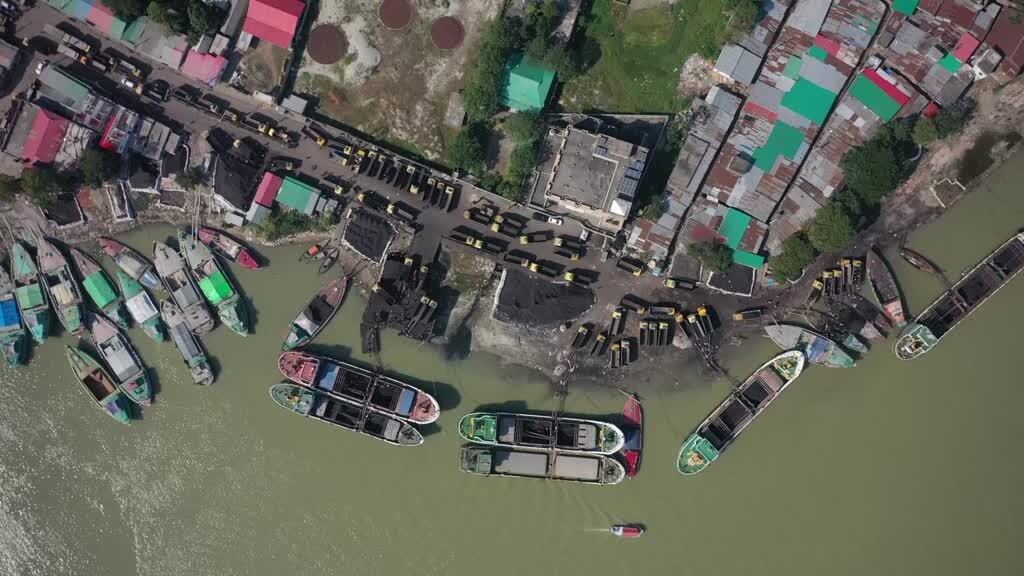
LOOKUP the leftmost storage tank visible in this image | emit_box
[307,23,349,65]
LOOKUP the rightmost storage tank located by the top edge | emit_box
[430,16,464,51]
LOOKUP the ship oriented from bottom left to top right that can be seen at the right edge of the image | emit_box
[890,228,1024,356]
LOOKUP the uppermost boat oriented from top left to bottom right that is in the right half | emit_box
[898,247,943,274]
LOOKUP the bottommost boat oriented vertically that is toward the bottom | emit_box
[620,394,643,479]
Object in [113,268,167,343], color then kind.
white boat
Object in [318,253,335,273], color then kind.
gray boat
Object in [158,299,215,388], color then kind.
gray boat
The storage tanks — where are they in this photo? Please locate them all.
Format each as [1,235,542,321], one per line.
[430,16,464,51]
[307,23,349,65]
[379,0,414,29]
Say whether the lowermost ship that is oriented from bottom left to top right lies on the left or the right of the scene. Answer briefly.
right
